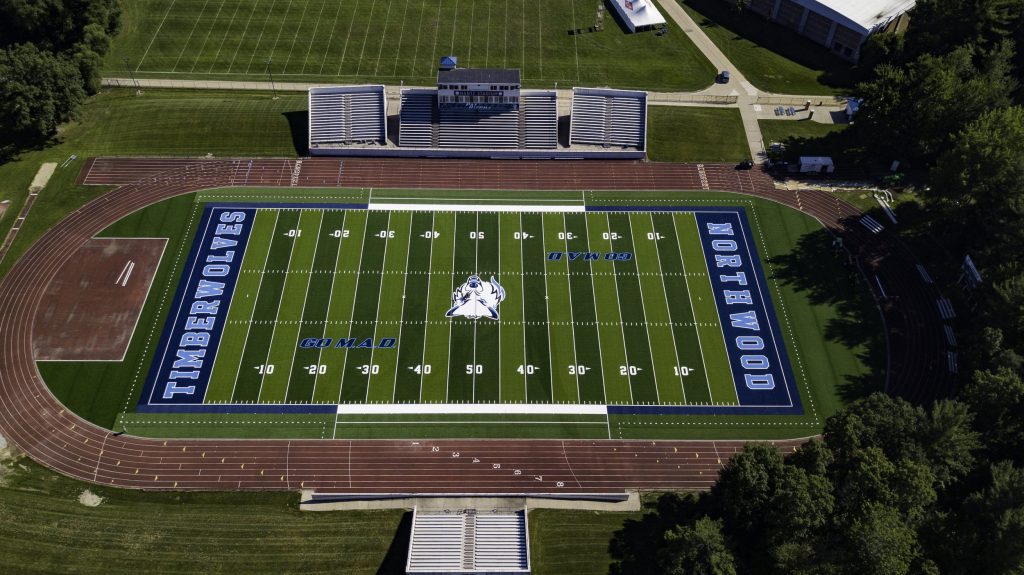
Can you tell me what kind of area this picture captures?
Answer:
sports ground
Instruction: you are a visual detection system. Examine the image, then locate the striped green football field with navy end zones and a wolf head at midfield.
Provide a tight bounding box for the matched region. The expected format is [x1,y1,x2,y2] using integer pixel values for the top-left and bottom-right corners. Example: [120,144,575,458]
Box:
[33,187,889,438]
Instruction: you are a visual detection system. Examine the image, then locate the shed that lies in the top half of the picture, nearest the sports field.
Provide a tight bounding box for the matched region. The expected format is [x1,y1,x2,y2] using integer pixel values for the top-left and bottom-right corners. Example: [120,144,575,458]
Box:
[799,157,836,173]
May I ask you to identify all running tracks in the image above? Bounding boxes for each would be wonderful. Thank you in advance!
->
[0,155,944,490]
